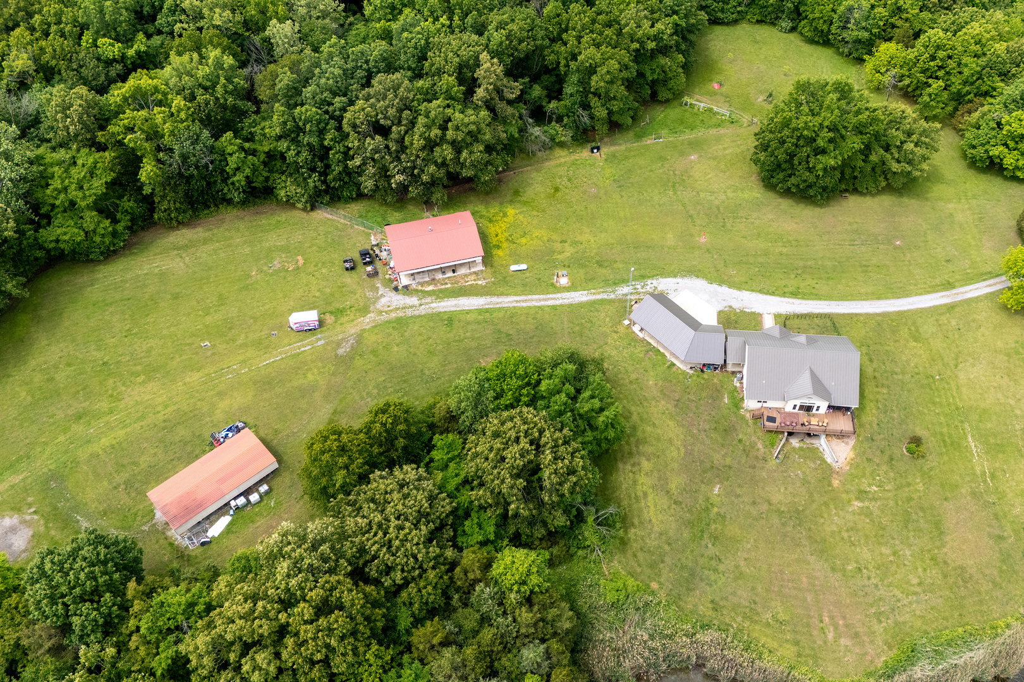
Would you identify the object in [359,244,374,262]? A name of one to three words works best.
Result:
vehicle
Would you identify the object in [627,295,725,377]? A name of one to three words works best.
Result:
building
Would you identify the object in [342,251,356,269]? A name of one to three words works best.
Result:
vehicle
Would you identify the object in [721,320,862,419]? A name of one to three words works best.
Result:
house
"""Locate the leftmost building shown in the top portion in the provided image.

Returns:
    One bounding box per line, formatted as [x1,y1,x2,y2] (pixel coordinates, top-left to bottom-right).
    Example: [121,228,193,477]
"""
[384,212,484,286]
